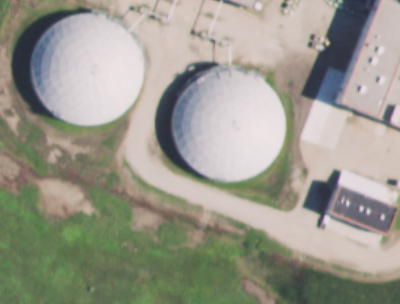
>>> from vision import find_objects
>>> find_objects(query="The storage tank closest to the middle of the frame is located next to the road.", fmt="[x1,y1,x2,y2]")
[171,64,284,182]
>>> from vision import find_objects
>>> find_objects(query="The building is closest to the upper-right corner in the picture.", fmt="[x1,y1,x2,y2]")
[334,0,400,131]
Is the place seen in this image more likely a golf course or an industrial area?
industrial area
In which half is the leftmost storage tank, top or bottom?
top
